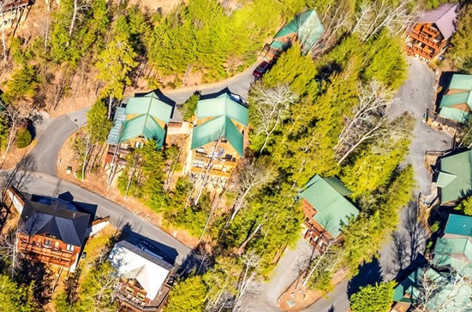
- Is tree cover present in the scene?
Yes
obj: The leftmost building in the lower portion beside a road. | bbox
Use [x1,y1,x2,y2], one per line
[19,196,90,271]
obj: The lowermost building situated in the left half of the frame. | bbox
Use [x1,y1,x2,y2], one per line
[102,241,175,312]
